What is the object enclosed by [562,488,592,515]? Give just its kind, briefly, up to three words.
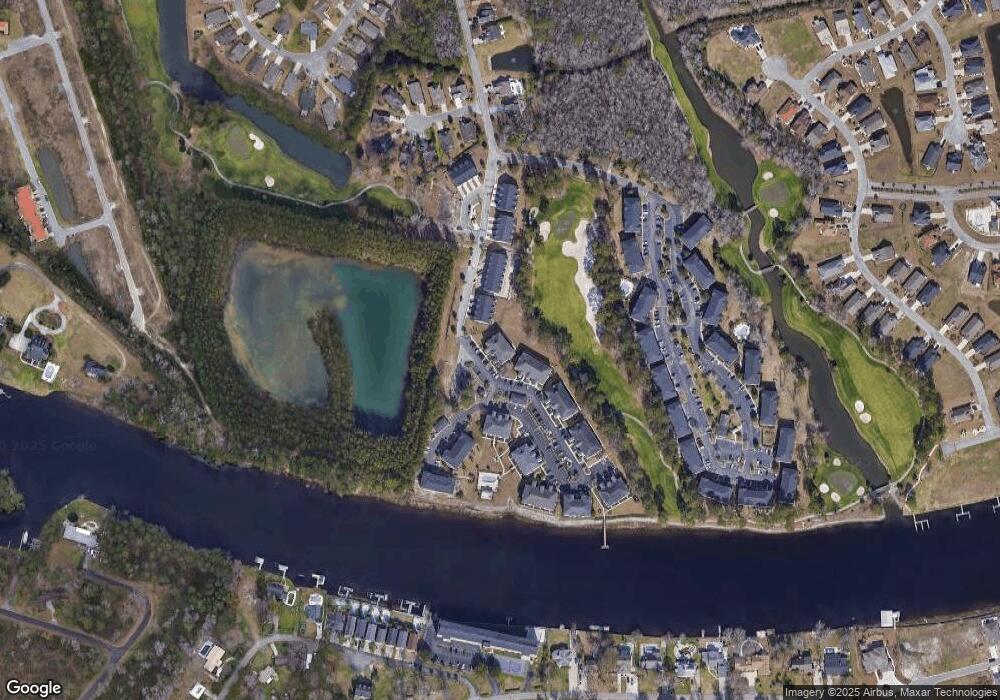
building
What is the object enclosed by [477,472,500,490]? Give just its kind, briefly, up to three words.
swimming pool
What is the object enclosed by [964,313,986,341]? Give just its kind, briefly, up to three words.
house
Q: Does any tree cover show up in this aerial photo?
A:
Yes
